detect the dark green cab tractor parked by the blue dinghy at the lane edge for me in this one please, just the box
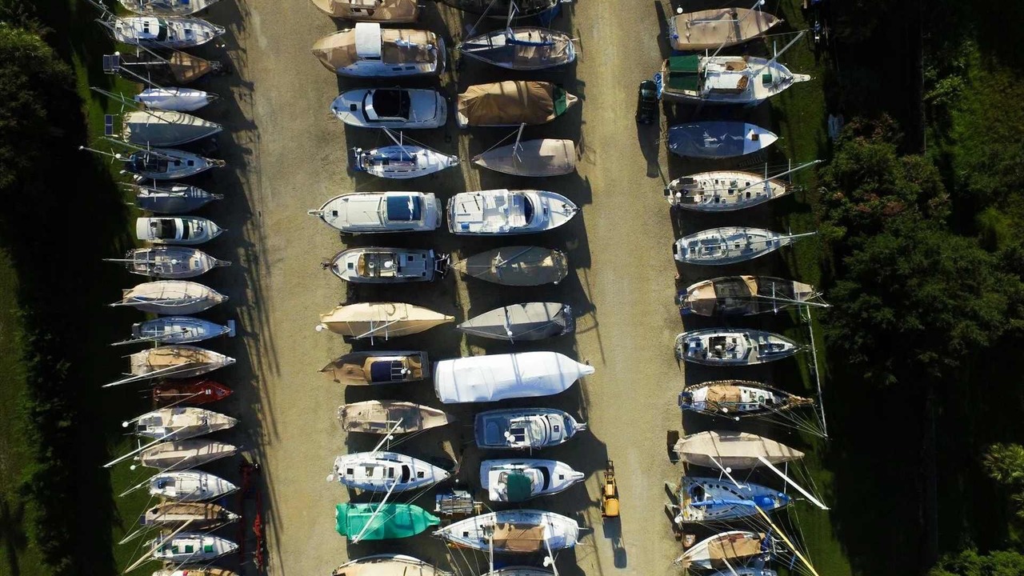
[632,81,657,132]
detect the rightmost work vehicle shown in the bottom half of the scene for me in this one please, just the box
[599,459,621,517]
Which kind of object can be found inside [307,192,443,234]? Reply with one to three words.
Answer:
boat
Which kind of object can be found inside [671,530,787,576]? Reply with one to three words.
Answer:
boat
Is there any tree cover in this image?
Yes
